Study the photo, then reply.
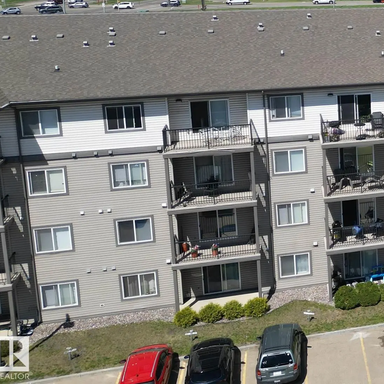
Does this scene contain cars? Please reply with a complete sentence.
Yes, there's a car down there.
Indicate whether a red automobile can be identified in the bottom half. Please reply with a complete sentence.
Yes, looking in the bottom half, one can make out a red automobile.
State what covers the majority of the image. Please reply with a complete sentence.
What you mostly see from above here is buildings.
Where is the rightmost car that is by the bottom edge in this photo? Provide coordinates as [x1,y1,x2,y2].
[249,323,301,384]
